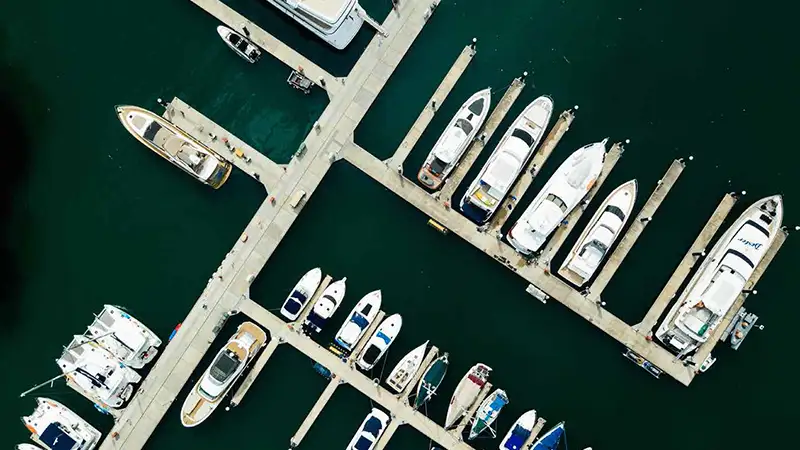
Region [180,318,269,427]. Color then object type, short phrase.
white boat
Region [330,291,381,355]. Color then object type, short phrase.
white boat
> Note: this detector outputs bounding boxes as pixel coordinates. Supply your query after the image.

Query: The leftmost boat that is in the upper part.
[115,105,234,189]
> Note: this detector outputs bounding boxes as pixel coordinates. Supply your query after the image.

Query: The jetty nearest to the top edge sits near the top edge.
[189,0,348,102]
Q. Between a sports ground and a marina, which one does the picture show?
marina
